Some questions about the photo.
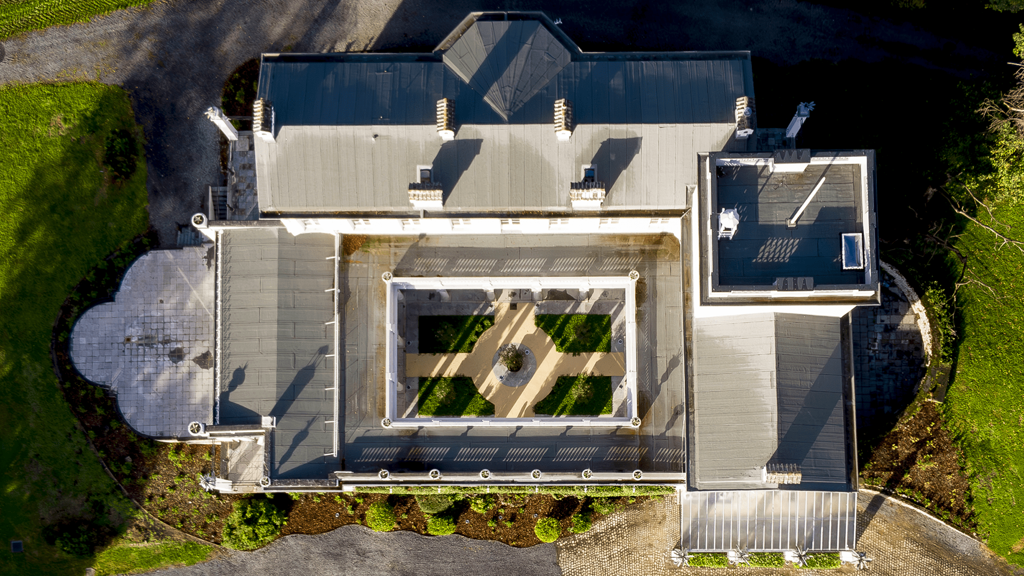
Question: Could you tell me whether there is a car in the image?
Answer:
No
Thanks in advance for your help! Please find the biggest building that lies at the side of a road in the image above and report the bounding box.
[203,10,883,553]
